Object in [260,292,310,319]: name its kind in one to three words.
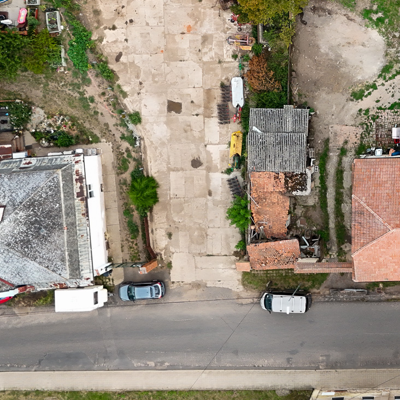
car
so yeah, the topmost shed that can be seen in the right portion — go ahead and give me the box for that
[247,105,310,173]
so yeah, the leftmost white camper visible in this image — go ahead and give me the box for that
[46,287,114,317]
